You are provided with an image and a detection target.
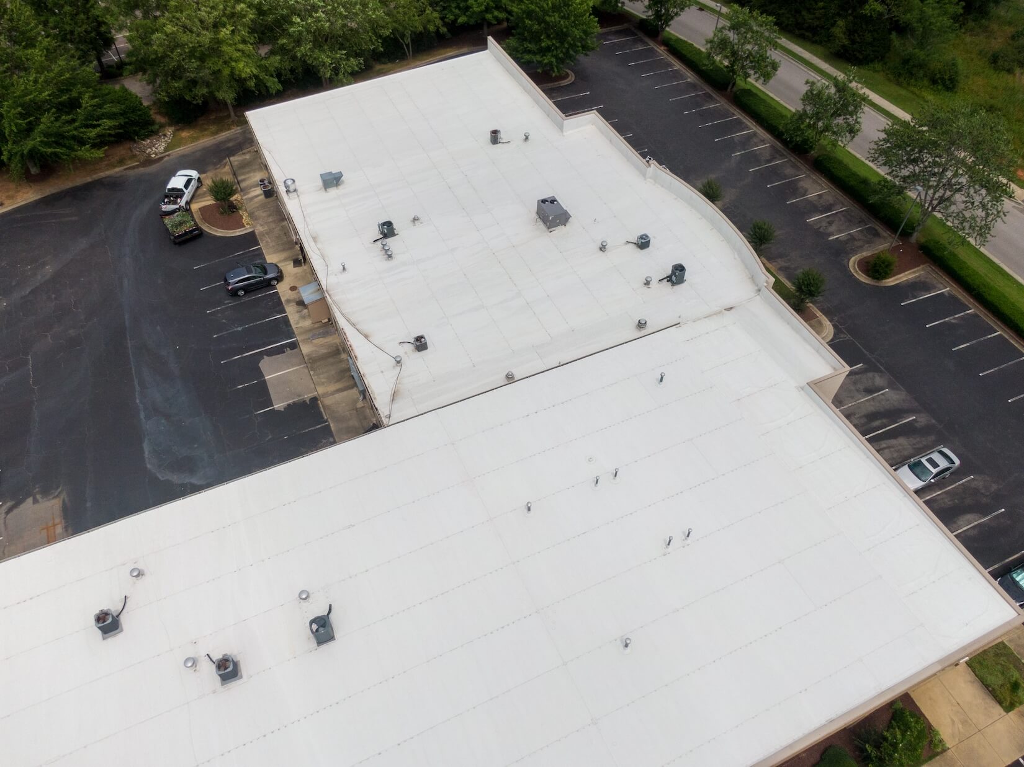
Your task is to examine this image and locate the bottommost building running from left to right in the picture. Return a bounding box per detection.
[0,287,1024,767]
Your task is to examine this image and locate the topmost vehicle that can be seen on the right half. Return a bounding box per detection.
[894,445,966,494]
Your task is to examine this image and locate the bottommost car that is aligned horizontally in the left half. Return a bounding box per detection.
[220,260,284,296]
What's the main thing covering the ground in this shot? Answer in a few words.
buildings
